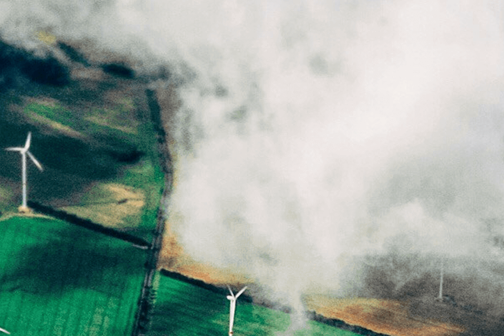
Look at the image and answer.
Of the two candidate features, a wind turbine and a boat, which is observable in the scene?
wind turbine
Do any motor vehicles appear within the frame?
No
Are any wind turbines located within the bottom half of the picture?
Yes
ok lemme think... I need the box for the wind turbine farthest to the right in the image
[424,225,461,300]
